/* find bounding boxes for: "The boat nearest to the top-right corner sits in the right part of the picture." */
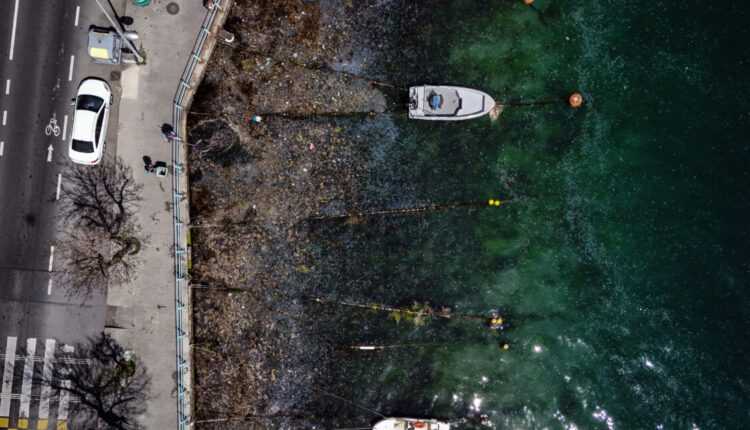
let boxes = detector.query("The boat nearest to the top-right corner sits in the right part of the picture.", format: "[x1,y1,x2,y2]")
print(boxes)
[408,84,497,122]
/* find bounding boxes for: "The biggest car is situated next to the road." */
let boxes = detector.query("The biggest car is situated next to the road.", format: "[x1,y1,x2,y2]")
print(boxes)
[66,75,116,166]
